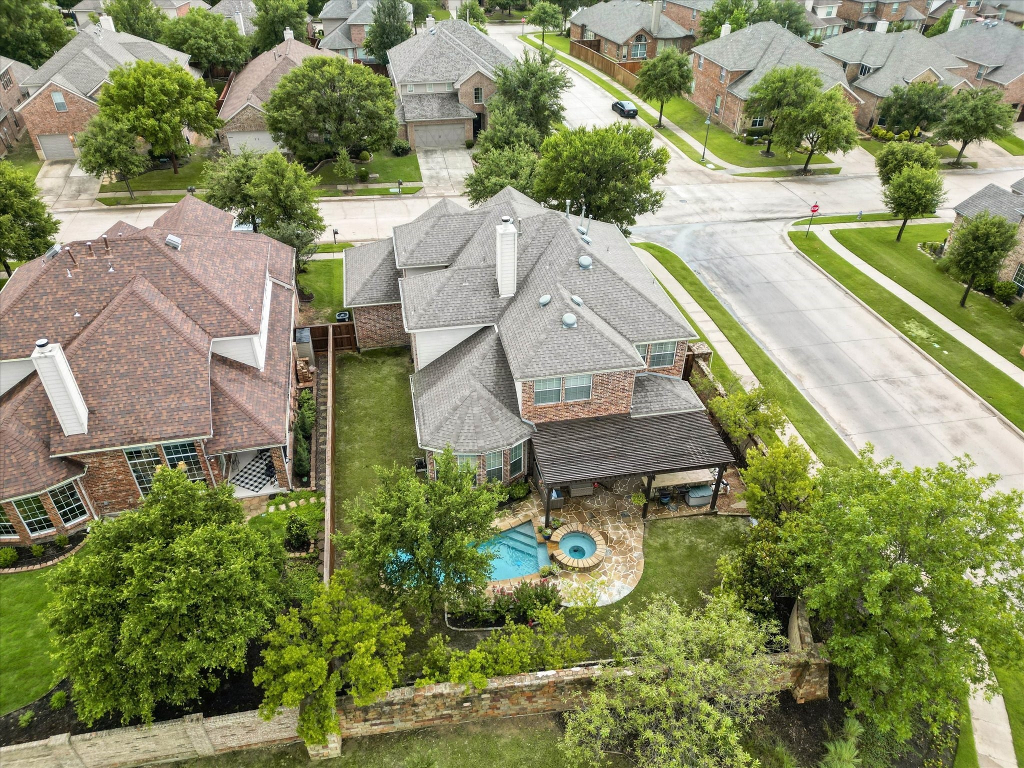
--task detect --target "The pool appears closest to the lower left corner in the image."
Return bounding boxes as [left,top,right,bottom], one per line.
[376,511,552,592]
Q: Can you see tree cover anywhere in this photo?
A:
Yes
